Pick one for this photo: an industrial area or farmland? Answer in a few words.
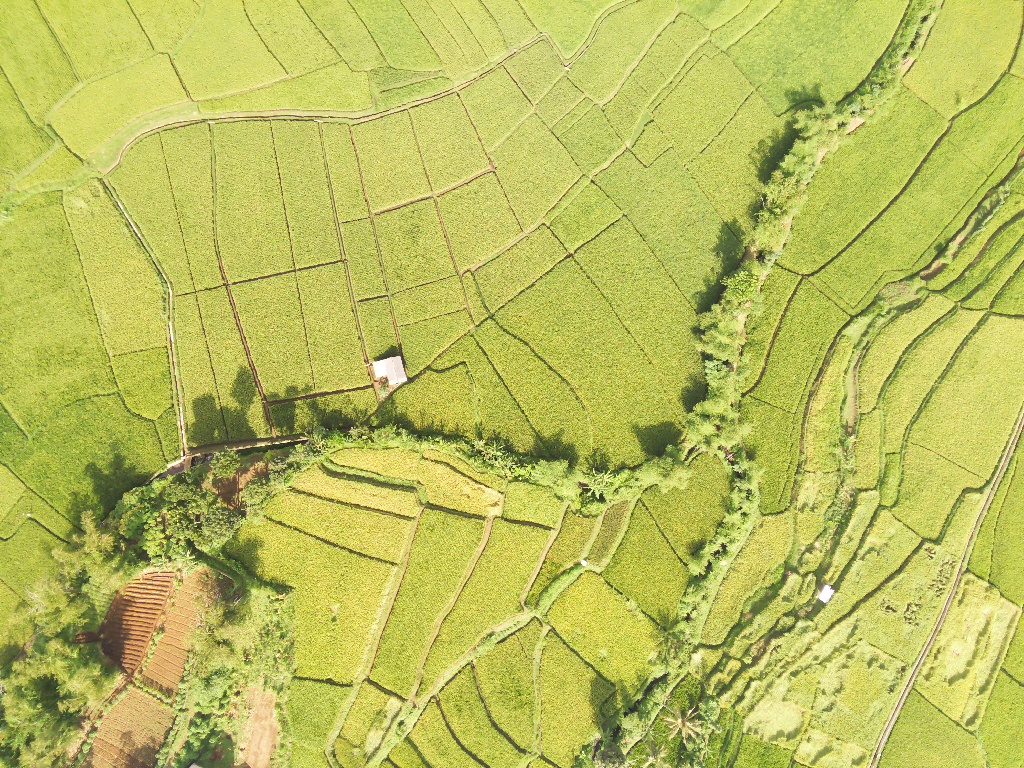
farmland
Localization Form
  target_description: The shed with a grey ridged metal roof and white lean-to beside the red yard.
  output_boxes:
[372,355,407,384]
